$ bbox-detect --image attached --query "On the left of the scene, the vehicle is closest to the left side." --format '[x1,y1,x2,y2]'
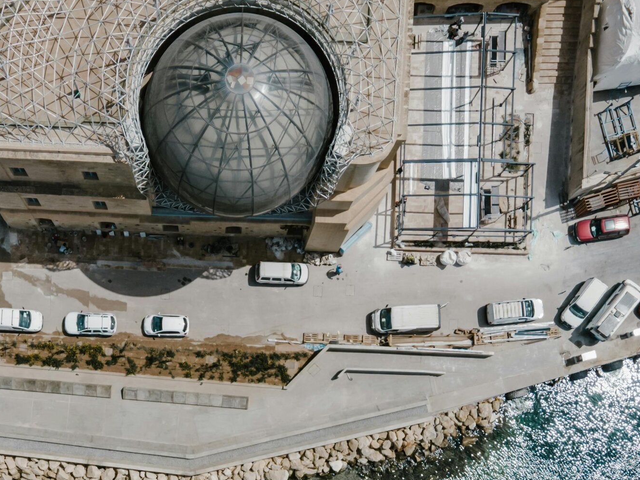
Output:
[0,306,44,335]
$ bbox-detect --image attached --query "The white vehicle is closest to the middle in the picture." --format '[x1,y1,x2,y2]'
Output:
[254,258,309,287]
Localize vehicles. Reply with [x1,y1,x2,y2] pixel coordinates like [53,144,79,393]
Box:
[581,276,640,347]
[143,312,189,338]
[0,306,44,335]
[369,300,454,336]
[254,258,309,287]
[483,296,542,326]
[569,215,633,246]
[559,274,614,332]
[64,310,119,338]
